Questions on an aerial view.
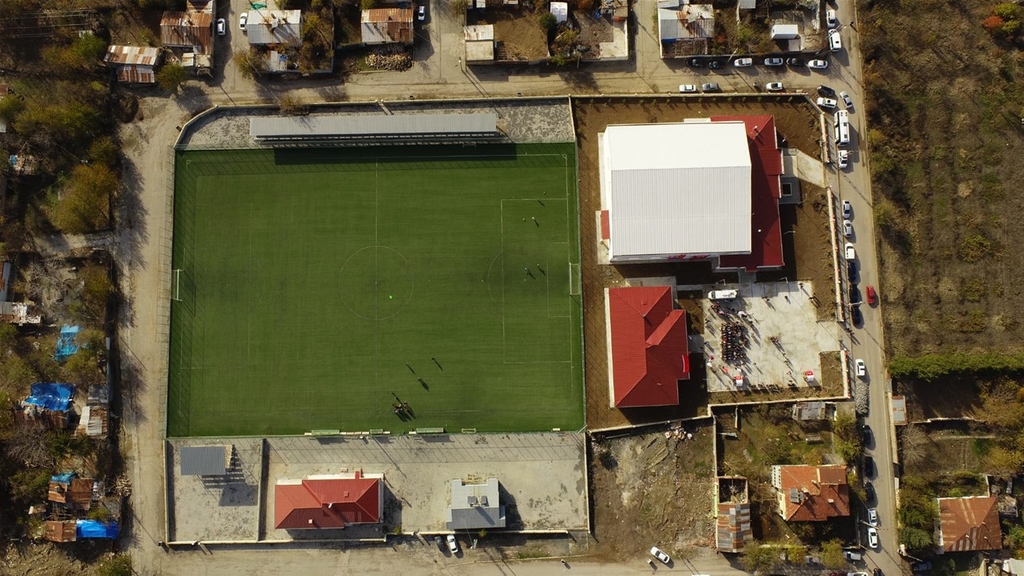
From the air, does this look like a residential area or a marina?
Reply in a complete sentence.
The area seen from above is a residential area.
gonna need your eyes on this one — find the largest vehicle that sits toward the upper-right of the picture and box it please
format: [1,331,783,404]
[833,111,849,147]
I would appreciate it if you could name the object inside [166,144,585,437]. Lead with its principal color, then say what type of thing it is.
green soccer field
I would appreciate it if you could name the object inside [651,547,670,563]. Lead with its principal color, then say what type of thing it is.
white car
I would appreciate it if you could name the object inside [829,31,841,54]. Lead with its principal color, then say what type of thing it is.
white vehicle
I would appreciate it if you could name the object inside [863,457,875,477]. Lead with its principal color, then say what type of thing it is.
black vehicle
